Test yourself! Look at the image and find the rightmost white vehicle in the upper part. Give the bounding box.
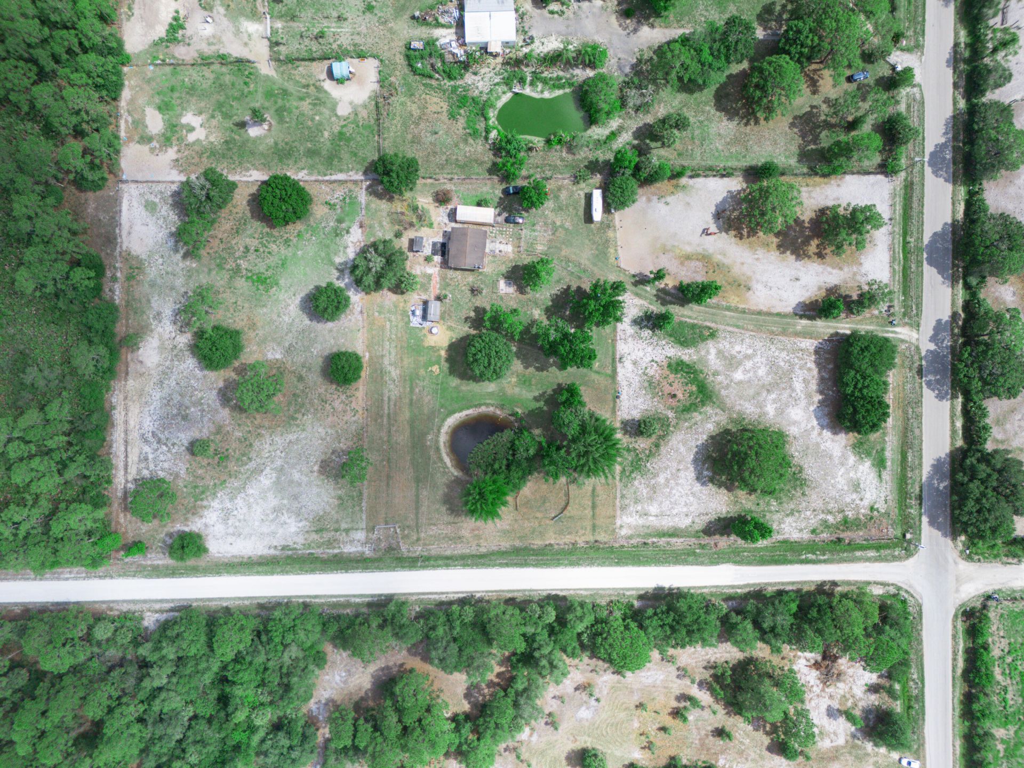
[591,190,603,228]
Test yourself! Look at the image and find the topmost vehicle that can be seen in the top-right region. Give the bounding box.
[848,70,869,84]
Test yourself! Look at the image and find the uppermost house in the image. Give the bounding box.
[465,0,516,56]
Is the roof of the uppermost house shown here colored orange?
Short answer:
No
